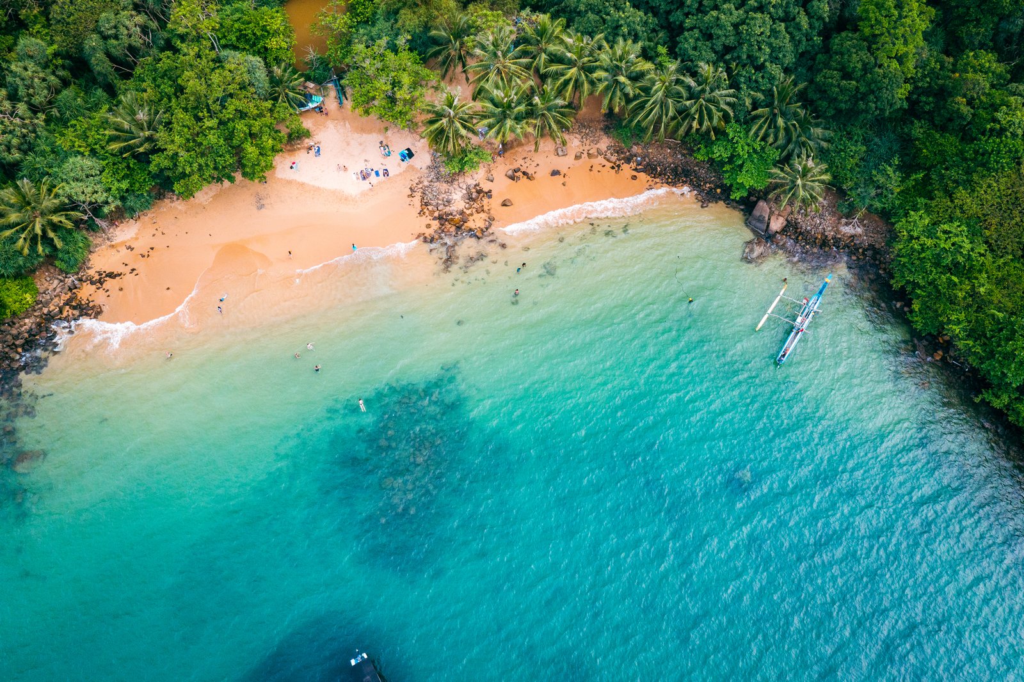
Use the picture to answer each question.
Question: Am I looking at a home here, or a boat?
boat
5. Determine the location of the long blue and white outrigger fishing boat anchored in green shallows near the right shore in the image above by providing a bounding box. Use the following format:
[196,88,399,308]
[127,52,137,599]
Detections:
[762,277,830,363]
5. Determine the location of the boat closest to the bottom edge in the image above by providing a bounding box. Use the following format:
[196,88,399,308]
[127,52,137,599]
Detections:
[346,650,380,682]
